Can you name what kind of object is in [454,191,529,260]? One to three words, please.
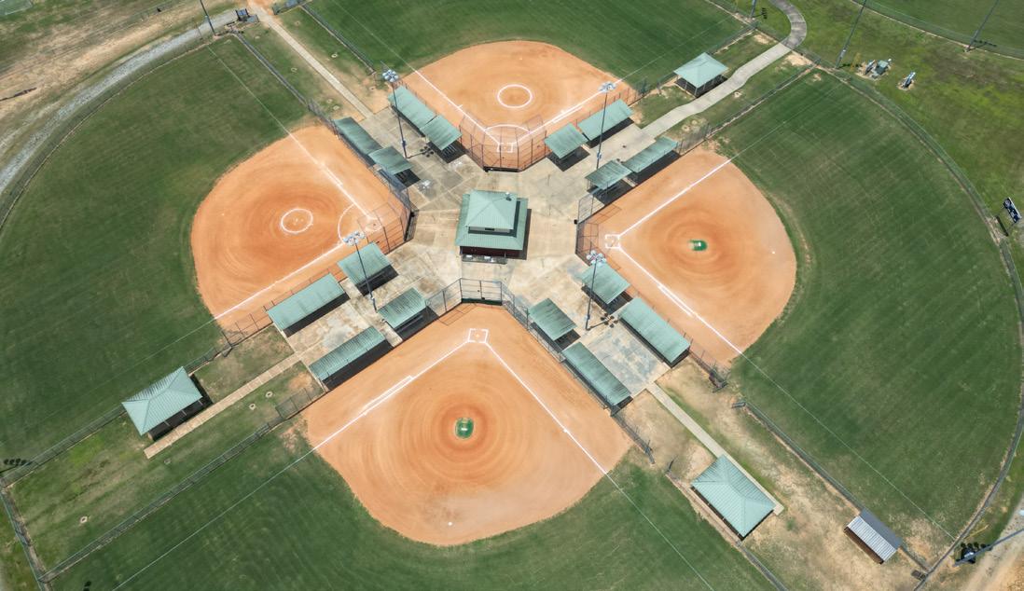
building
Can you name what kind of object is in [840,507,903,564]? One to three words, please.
shed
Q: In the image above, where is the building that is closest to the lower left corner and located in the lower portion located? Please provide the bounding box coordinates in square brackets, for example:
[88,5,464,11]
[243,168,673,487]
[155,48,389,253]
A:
[122,366,206,440]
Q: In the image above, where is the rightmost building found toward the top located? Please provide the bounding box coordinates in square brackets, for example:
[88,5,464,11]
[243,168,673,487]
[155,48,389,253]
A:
[673,53,729,97]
